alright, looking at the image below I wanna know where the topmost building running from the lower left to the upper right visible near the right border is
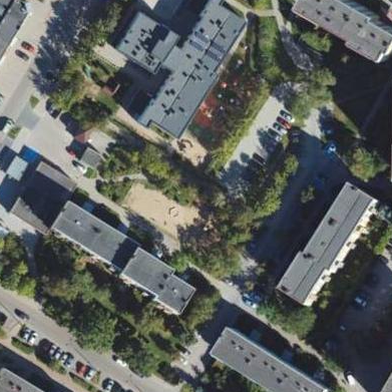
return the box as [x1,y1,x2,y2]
[277,182,382,306]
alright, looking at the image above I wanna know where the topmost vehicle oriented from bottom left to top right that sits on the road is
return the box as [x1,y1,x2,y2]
[1,119,16,136]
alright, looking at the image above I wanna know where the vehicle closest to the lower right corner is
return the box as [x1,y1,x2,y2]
[343,371,357,388]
